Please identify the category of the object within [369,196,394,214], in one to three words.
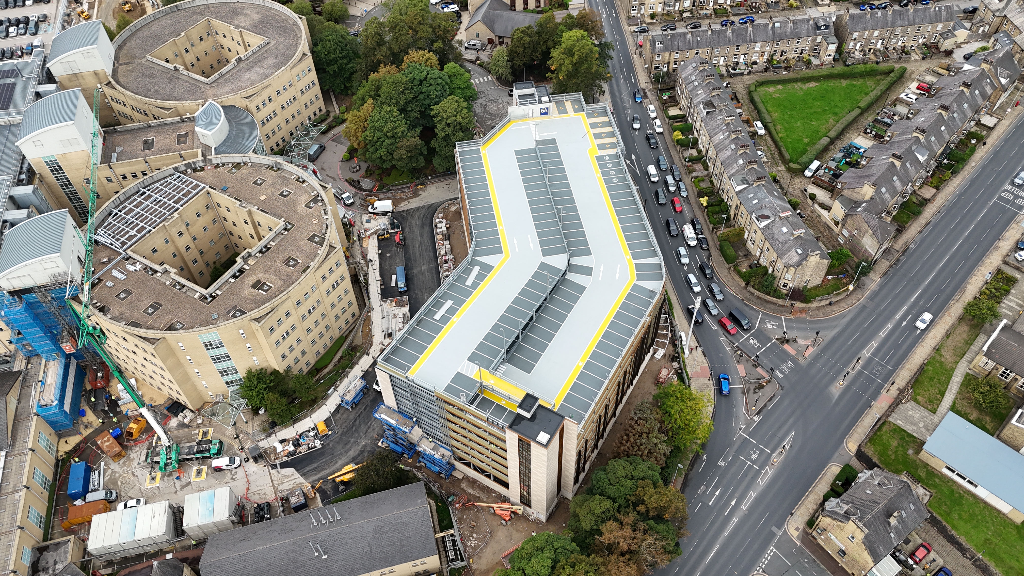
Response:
vehicle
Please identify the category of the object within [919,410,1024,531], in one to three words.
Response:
building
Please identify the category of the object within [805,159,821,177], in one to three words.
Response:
car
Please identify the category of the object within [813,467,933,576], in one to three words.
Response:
house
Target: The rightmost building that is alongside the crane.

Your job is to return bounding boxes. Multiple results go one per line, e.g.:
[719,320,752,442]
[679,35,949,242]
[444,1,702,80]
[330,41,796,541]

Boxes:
[375,72,664,527]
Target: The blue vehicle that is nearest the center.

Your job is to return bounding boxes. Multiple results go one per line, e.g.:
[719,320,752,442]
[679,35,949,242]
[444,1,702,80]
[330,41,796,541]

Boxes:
[395,262,408,292]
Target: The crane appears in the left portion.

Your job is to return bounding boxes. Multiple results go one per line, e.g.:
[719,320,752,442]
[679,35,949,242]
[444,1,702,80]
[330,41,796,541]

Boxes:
[65,87,224,487]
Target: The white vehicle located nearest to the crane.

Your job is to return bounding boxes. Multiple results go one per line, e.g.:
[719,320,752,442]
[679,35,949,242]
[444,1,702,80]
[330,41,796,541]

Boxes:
[207,454,243,473]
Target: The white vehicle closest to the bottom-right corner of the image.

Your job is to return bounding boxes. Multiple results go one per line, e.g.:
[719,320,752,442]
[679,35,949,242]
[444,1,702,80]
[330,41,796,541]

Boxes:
[915,310,933,330]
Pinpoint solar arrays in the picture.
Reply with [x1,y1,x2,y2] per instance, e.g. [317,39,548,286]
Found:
[0,83,16,110]
[0,69,19,79]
